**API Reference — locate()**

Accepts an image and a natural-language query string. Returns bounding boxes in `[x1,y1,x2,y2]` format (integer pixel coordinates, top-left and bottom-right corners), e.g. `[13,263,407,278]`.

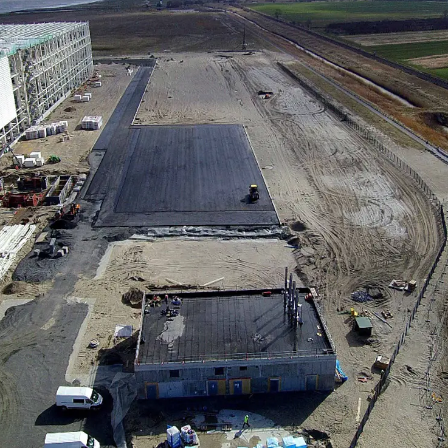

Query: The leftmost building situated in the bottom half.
[133,280,340,397]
